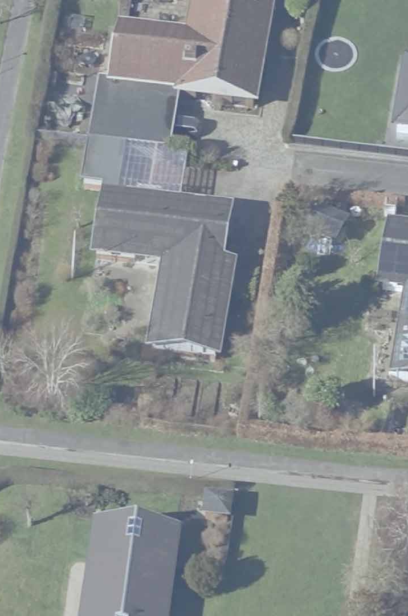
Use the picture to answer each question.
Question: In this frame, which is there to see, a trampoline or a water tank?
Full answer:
This aerial view contains a trampoline.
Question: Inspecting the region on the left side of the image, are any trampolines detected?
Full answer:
No, I can find no trampoline on the left side of the image.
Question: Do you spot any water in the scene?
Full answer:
No, the scene doesn't show any water.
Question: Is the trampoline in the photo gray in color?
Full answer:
Yes, the trampoline is indeed gray.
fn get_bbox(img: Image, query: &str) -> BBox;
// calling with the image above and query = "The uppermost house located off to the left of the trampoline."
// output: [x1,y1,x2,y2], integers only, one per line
[107,0,278,108]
